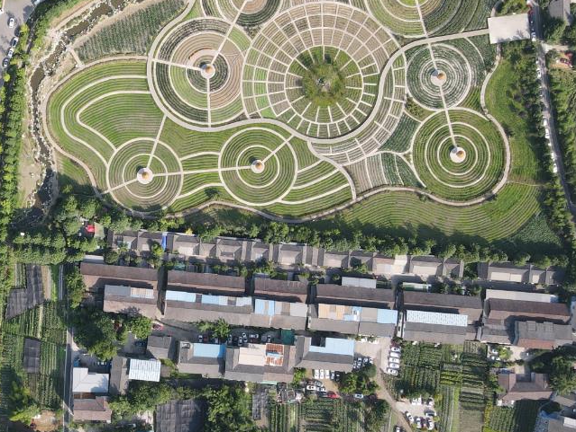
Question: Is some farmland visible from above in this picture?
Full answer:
Yes, there is farmland in the image.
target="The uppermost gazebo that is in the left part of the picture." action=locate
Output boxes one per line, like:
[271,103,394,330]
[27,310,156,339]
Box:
[200,62,216,77]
